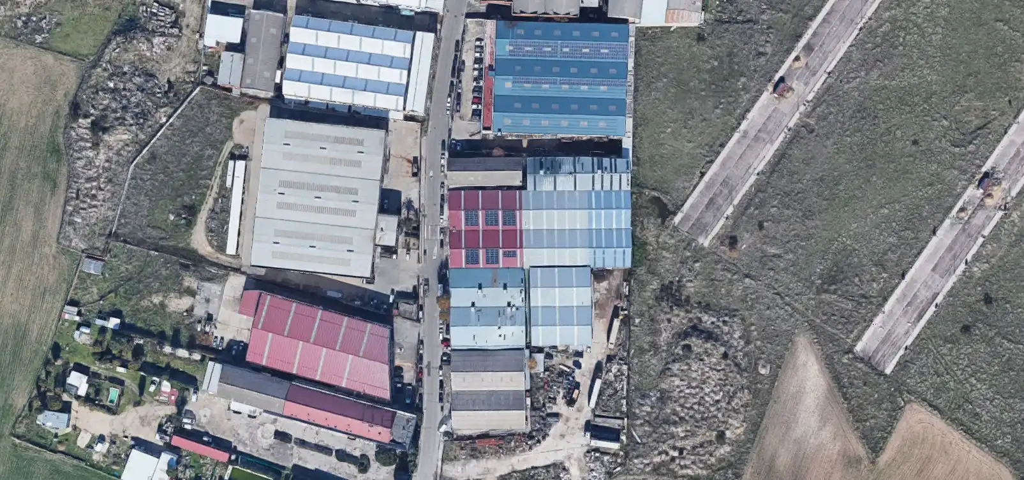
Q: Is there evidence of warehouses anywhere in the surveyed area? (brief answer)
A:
Yes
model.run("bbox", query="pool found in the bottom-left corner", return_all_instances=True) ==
[107,388,119,406]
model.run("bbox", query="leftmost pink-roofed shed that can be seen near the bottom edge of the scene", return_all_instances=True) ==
[171,434,233,463]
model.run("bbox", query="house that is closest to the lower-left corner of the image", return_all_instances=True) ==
[36,409,73,434]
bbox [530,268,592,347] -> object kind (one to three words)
building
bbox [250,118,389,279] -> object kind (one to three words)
warehouse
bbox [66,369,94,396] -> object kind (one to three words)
house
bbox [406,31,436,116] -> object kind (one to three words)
shed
